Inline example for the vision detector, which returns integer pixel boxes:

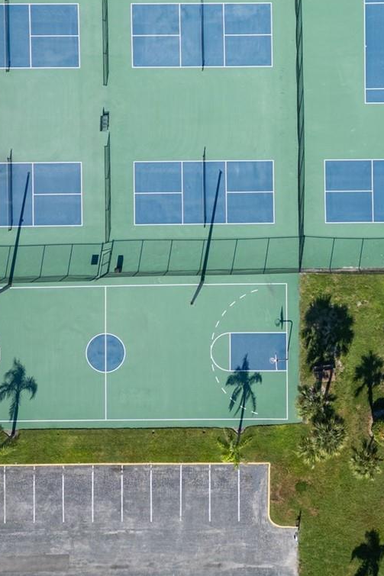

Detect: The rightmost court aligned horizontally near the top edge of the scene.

[130,1,273,67]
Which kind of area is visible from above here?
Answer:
sports ground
